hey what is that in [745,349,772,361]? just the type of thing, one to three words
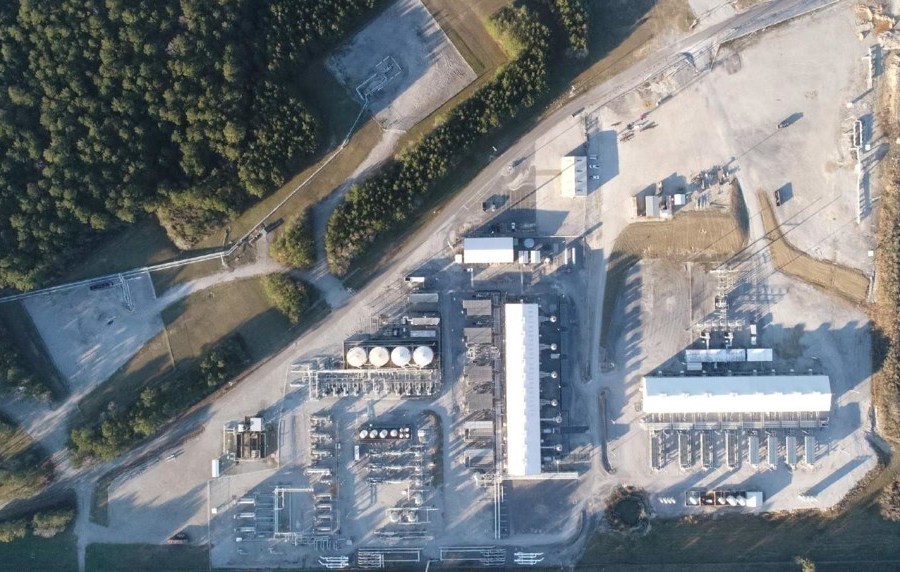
building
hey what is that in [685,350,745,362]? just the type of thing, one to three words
building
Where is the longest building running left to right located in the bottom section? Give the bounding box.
[640,373,833,412]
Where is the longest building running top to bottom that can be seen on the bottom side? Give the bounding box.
[504,303,542,476]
